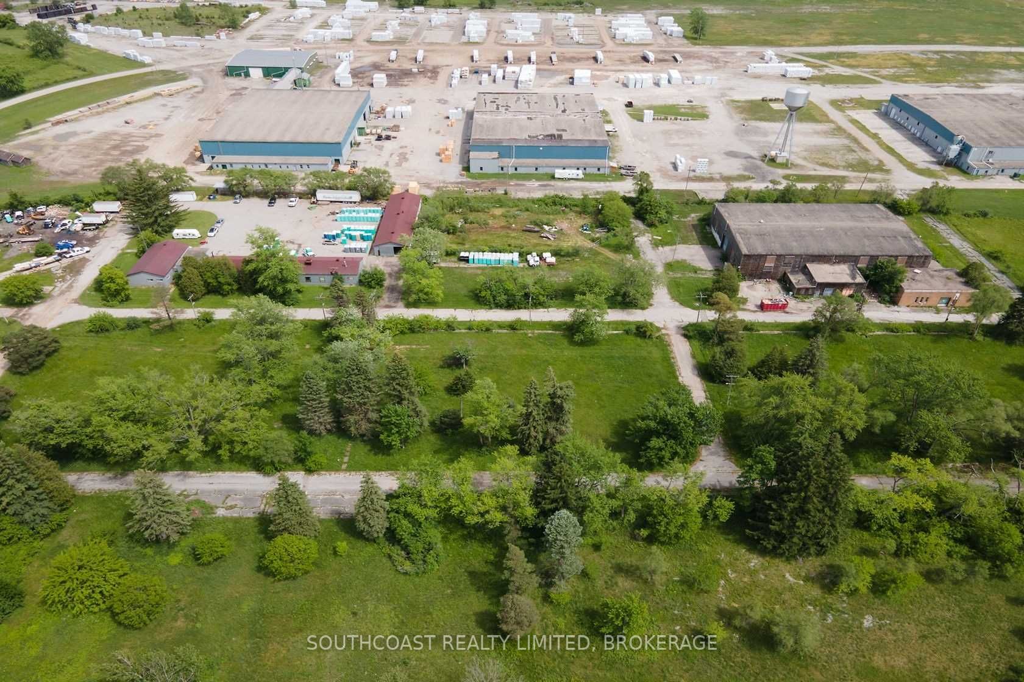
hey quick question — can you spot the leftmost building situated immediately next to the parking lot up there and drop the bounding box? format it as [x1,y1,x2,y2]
[123,240,195,286]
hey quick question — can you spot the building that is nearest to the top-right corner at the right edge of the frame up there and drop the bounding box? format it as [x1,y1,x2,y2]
[884,94,1024,176]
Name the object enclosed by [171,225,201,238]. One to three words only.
vehicle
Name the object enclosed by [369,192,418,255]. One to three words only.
building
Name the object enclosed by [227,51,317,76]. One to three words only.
barn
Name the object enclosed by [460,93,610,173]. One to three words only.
building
